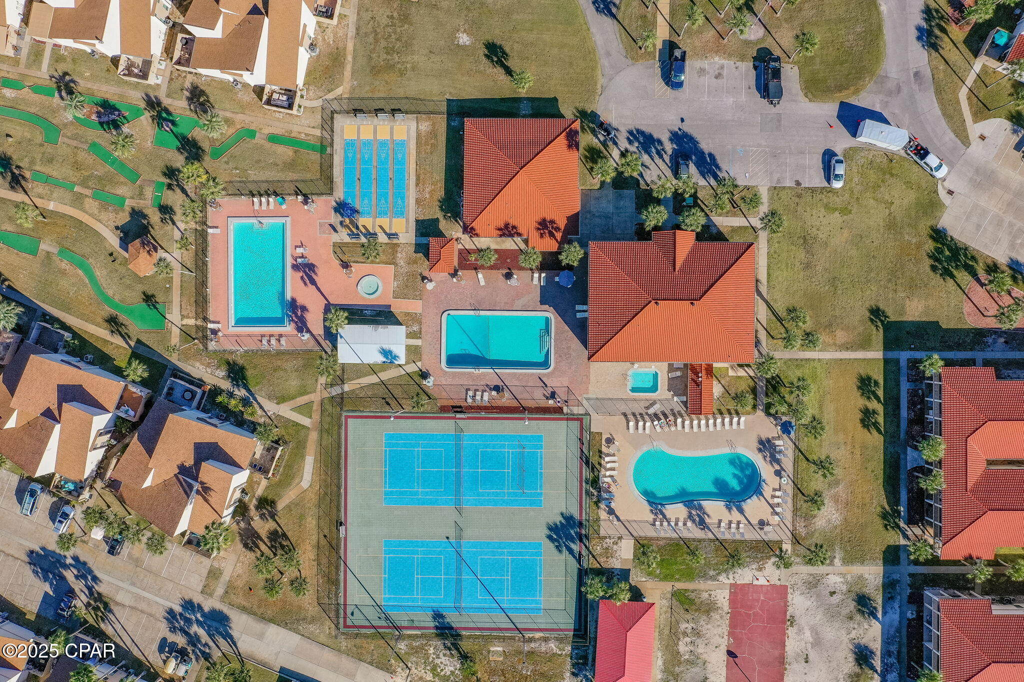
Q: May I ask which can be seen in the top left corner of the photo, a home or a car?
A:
home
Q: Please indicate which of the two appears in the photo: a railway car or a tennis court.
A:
tennis court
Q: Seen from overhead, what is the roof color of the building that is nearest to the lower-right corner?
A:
red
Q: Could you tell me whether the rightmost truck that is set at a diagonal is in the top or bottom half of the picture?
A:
top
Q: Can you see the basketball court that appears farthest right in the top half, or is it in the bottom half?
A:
bottom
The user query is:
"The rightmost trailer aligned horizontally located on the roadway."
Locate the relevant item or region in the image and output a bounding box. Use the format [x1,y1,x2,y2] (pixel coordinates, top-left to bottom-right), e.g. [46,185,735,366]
[858,117,912,148]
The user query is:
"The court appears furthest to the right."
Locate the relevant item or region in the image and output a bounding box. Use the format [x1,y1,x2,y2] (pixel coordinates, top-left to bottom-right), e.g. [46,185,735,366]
[726,584,788,682]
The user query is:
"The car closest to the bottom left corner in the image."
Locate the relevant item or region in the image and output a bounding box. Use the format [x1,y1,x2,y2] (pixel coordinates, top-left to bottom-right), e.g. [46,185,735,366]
[54,592,80,625]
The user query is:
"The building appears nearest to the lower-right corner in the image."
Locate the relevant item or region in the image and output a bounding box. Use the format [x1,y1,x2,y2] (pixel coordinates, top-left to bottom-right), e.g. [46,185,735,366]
[923,591,1024,682]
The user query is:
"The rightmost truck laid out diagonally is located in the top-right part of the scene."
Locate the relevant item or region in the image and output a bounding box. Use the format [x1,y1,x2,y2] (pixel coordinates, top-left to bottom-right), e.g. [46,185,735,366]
[906,140,947,178]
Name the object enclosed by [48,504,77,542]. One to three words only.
truck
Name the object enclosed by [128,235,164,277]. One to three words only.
gazebo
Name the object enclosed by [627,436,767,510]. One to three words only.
swimming pool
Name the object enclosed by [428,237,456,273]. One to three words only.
building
